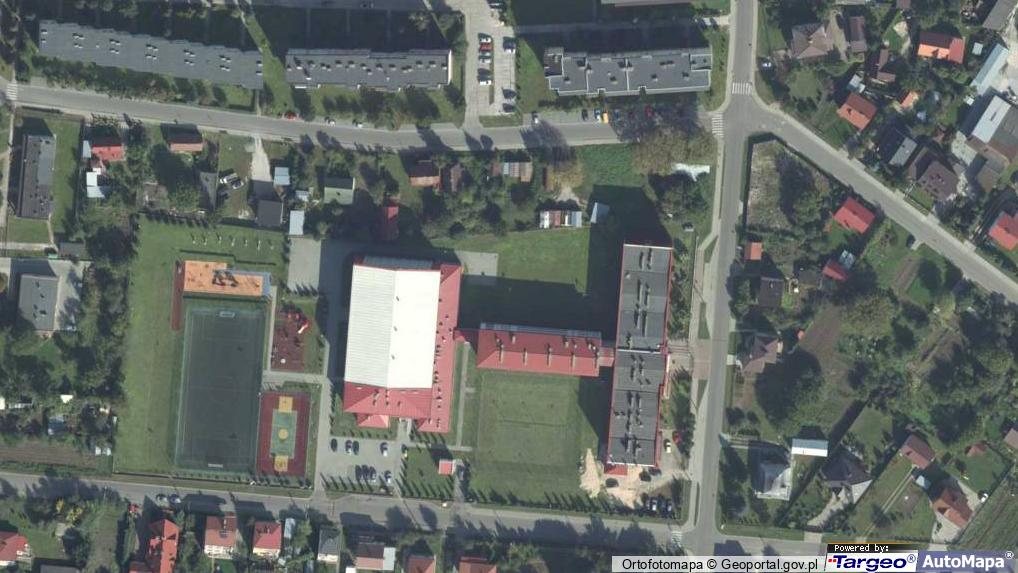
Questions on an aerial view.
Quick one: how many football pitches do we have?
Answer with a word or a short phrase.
1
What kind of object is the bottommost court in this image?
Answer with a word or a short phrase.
basketball court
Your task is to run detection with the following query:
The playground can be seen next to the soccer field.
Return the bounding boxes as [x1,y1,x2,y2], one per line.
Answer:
[271,303,305,372]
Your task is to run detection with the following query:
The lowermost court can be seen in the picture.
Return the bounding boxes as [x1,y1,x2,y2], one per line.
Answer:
[256,392,309,475]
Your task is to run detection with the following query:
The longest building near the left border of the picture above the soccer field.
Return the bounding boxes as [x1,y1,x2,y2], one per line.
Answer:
[39,20,265,93]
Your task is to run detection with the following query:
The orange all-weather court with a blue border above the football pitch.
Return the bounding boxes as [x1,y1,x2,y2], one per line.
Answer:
[183,261,270,297]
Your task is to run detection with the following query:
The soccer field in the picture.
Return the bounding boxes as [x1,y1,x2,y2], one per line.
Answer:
[175,300,267,473]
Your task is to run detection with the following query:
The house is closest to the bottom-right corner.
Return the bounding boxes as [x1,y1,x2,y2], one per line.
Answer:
[933,486,973,529]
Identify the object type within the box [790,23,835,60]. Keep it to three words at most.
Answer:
house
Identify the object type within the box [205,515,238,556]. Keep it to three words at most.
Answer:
house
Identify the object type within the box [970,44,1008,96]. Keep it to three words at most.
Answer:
building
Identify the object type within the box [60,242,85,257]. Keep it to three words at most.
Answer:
shed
